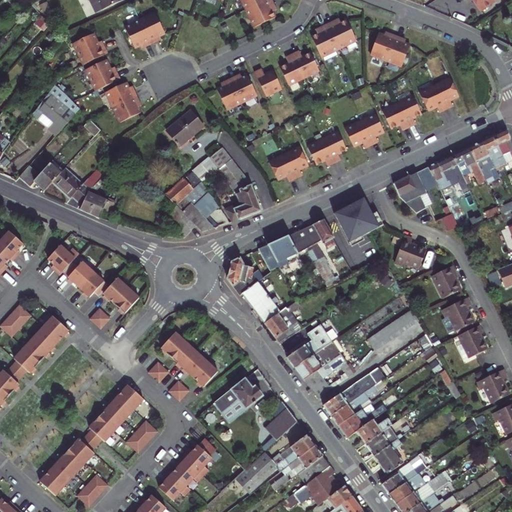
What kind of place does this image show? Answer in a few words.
residential area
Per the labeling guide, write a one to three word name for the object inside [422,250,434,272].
vehicle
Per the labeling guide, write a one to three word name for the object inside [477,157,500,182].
shed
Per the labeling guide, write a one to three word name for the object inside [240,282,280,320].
building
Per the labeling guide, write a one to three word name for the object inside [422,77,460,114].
house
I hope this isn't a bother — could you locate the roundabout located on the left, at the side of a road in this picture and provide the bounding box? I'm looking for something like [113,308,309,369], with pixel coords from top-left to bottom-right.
[150,242,219,310]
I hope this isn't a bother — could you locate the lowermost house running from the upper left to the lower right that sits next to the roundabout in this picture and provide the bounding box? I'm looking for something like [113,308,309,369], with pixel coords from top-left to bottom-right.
[162,332,218,386]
